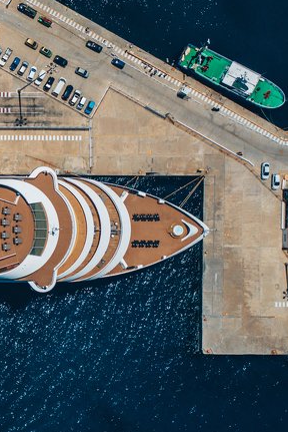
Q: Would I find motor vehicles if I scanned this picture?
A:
Yes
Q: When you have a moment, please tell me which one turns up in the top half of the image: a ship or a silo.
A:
ship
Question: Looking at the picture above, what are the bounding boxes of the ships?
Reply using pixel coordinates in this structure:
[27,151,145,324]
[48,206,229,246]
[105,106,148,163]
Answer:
[0,166,209,292]
[176,40,285,108]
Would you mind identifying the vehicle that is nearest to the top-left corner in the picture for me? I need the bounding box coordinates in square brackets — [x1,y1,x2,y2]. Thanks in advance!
[17,1,39,19]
